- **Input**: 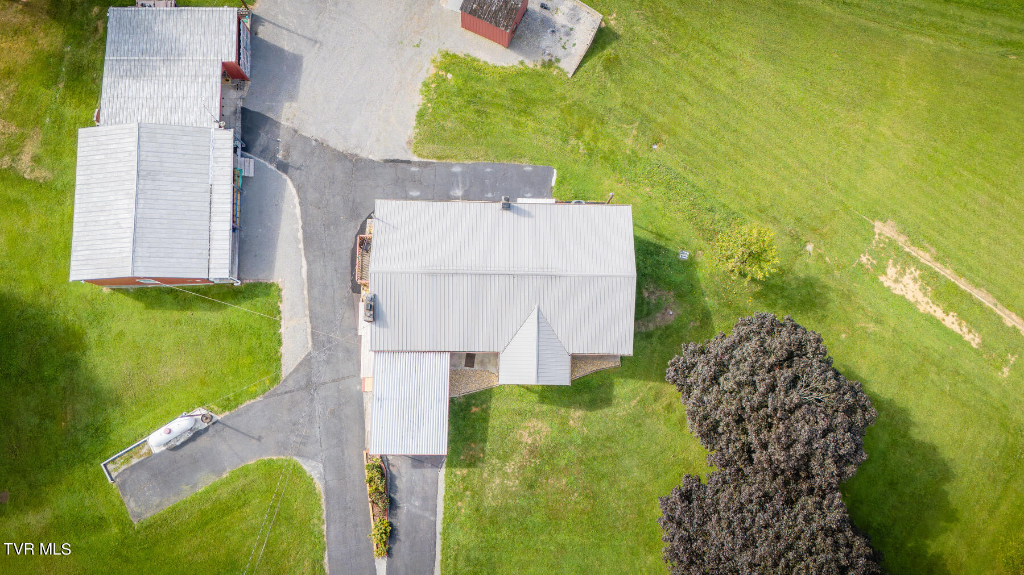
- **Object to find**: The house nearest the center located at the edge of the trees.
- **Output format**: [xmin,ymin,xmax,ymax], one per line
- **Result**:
[368,200,637,385]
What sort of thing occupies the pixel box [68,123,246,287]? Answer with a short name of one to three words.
barn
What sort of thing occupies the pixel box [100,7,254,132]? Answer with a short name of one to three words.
building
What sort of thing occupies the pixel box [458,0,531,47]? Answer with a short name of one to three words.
shed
